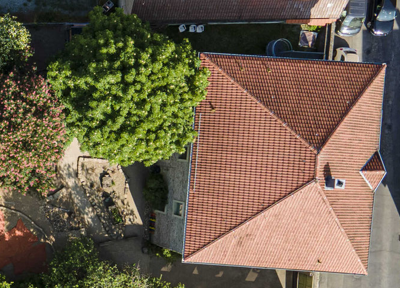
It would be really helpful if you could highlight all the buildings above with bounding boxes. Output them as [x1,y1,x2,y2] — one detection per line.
[118,0,350,27]
[149,51,389,277]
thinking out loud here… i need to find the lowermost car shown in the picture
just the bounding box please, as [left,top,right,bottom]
[333,38,359,61]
